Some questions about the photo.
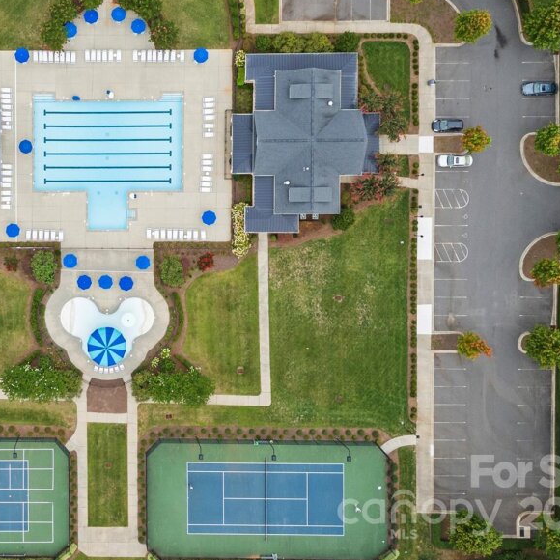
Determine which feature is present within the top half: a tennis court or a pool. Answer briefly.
pool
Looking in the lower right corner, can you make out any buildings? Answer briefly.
No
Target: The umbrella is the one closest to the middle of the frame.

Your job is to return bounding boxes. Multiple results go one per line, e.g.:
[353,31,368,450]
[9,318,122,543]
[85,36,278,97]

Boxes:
[201,210,216,225]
